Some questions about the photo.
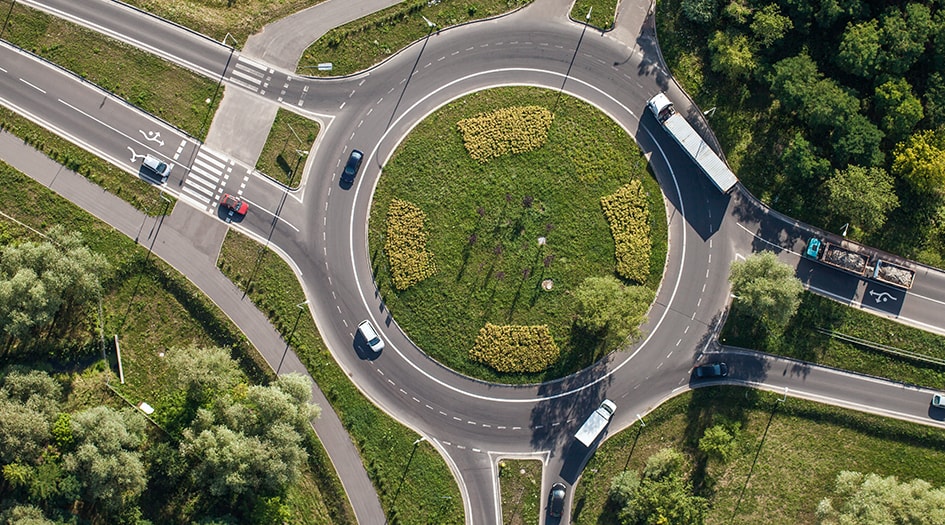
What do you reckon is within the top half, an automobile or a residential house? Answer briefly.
automobile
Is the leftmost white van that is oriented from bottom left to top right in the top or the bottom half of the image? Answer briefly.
bottom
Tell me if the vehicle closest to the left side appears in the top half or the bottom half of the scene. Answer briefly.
top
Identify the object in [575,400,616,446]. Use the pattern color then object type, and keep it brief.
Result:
white van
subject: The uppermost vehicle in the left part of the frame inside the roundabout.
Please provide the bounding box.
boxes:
[342,149,365,185]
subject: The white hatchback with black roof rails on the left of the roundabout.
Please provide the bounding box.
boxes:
[357,318,385,352]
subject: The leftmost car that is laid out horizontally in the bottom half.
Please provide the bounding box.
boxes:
[694,362,728,377]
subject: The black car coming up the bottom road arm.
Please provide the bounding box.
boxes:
[550,483,567,517]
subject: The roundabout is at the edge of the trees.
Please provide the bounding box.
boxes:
[231,10,738,464]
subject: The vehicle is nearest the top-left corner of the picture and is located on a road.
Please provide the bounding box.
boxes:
[141,153,173,178]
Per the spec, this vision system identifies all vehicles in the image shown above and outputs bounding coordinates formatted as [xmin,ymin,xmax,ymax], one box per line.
[802,234,916,289]
[141,153,173,178]
[575,400,616,446]
[550,483,567,517]
[342,149,365,185]
[357,318,385,352]
[220,194,248,214]
[645,94,737,194]
[694,362,728,377]
[932,394,945,410]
